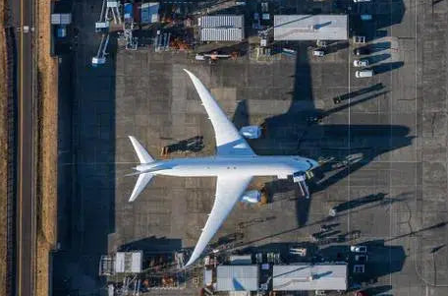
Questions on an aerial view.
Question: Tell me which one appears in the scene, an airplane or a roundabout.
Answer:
airplane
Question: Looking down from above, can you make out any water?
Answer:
No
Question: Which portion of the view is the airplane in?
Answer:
center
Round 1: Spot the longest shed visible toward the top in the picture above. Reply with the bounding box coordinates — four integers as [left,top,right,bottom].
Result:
[273,14,349,40]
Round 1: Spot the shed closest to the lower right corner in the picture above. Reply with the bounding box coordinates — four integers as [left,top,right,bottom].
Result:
[272,263,348,290]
